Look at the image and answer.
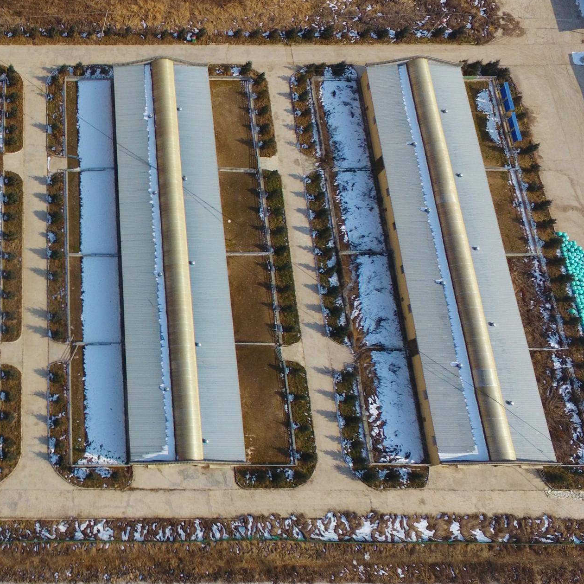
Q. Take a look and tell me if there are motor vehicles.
No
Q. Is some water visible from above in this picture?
No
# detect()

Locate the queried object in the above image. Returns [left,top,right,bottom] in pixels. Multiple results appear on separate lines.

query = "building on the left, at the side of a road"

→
[109,54,249,466]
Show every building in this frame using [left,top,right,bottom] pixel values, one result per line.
[109,54,249,466]
[357,54,561,466]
